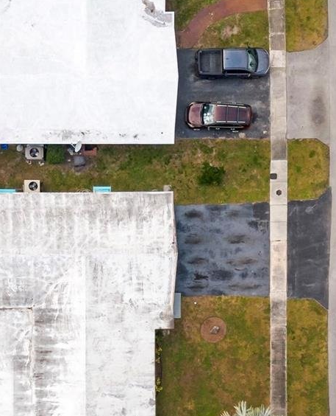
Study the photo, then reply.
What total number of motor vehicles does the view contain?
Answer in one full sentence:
In total, 2 motor vehicles can be seen.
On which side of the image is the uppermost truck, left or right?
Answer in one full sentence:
The uppermost truck sits on the right side.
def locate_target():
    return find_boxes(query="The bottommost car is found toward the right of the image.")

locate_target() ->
[185,98,252,133]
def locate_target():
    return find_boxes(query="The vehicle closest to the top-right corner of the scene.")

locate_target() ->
[193,44,269,81]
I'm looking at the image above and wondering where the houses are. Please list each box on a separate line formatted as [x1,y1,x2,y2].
[0,186,182,416]
[0,0,180,145]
